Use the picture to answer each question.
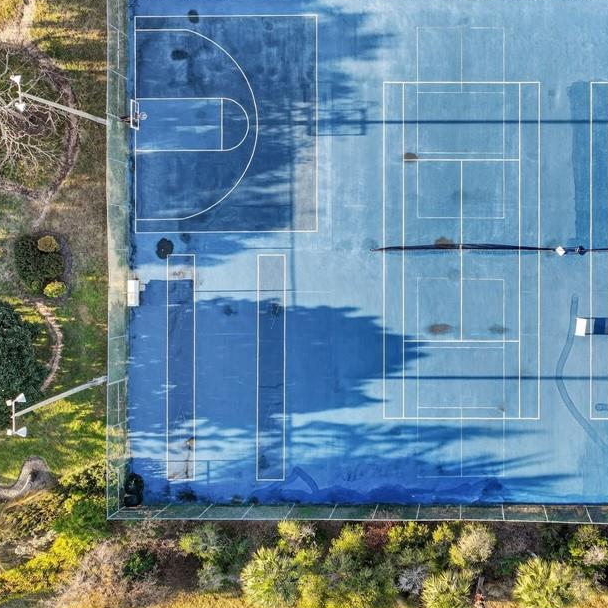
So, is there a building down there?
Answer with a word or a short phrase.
No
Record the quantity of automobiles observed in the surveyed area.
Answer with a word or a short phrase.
none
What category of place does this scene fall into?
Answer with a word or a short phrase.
sports ground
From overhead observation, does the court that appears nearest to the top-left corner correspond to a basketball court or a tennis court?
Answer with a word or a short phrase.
basketball court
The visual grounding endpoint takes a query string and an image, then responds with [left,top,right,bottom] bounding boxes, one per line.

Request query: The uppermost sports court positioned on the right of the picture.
[417,27,505,218]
